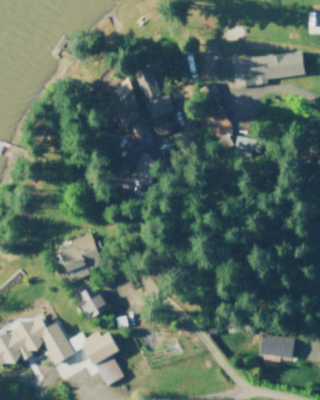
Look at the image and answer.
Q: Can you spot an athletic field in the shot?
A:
No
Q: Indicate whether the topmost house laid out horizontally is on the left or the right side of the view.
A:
right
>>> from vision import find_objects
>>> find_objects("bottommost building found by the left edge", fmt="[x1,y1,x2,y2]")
[0,312,74,368]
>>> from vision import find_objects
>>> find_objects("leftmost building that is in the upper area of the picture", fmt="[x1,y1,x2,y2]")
[110,74,144,140]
